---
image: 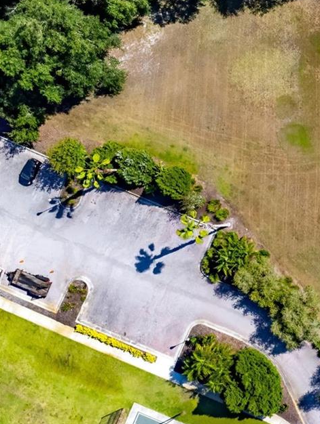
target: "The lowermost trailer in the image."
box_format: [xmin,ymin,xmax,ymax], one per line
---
[3,270,48,299]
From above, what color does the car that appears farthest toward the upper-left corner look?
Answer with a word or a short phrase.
black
